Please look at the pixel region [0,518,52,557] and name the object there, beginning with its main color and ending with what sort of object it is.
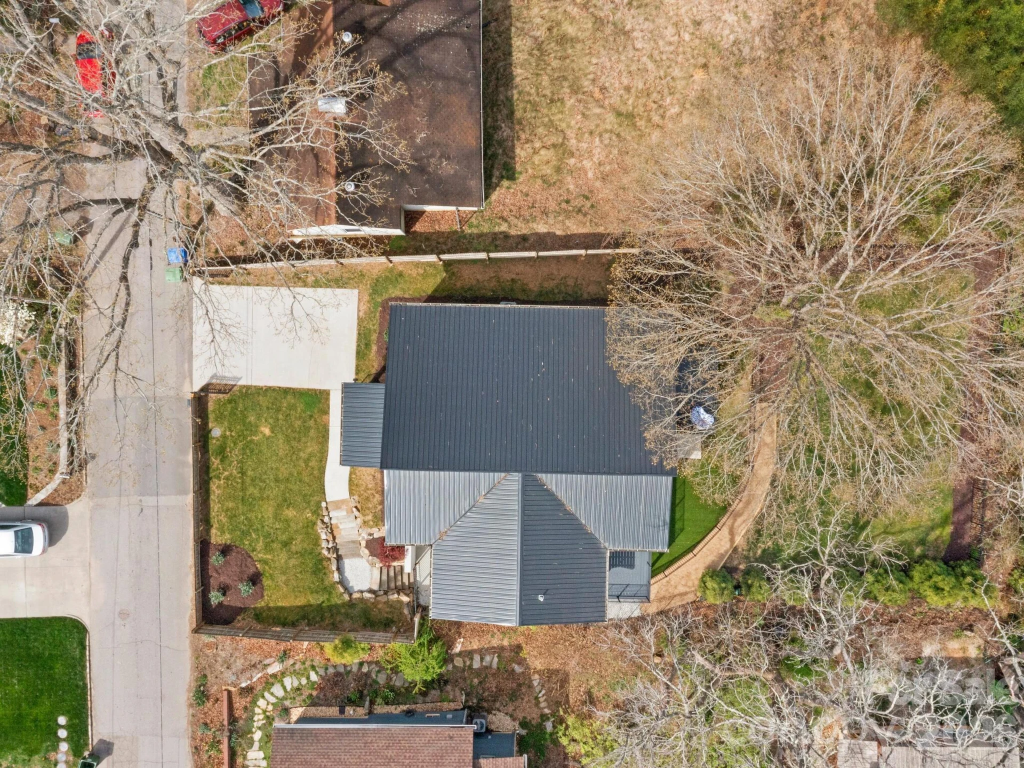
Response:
white car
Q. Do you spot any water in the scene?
No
